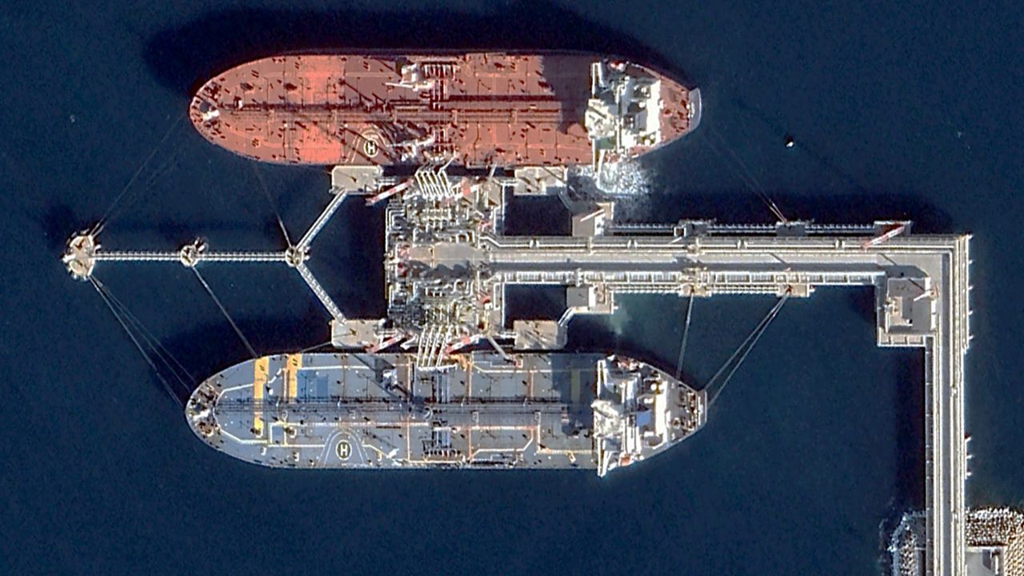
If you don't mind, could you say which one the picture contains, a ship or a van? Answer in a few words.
ship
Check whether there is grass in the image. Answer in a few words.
No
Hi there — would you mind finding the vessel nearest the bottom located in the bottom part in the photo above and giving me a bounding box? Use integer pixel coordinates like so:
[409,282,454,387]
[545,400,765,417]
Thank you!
[185,349,708,478]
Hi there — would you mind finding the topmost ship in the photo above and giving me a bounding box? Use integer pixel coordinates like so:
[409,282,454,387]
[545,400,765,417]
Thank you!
[189,47,703,176]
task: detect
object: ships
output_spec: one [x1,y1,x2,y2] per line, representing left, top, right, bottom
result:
[185,349,708,478]
[189,47,703,176]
